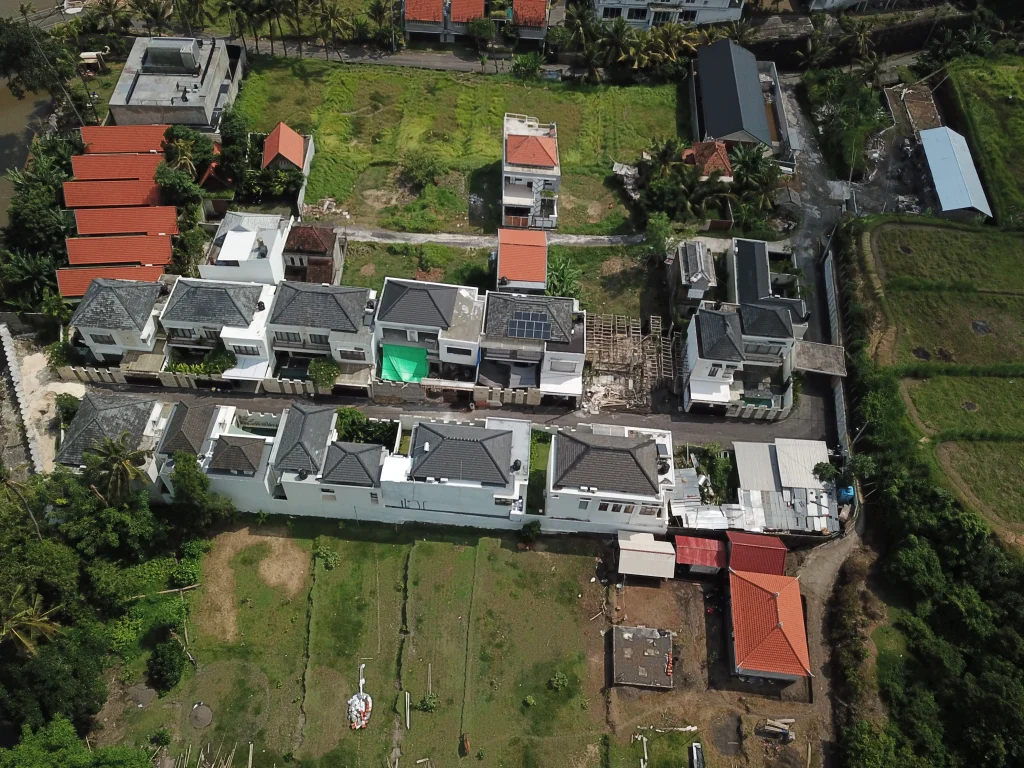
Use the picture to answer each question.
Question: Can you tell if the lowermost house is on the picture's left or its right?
right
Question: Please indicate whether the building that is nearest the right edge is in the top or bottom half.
top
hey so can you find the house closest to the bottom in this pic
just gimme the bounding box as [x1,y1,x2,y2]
[727,565,817,694]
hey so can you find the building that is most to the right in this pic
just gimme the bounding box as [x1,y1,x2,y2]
[915,126,992,229]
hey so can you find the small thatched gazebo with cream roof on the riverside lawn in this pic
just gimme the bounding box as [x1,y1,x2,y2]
[76,48,105,69]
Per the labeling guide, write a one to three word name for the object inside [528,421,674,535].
house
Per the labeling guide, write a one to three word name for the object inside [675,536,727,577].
shed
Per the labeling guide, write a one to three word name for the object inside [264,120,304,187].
building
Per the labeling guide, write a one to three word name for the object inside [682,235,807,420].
house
